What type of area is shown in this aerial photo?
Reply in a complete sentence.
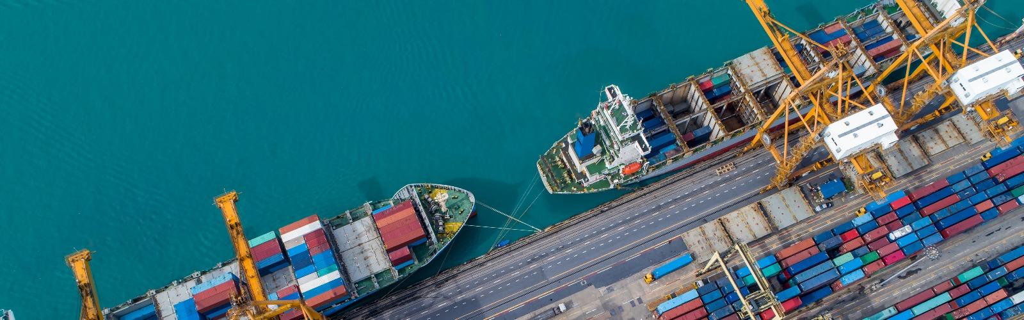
This image shows a port.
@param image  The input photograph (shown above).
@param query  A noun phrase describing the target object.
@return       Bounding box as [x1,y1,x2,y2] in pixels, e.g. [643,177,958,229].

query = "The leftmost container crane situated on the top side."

[739,0,910,202]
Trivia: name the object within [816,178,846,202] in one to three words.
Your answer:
shed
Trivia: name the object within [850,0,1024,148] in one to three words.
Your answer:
container crane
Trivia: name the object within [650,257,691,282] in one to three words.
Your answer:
shipping container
